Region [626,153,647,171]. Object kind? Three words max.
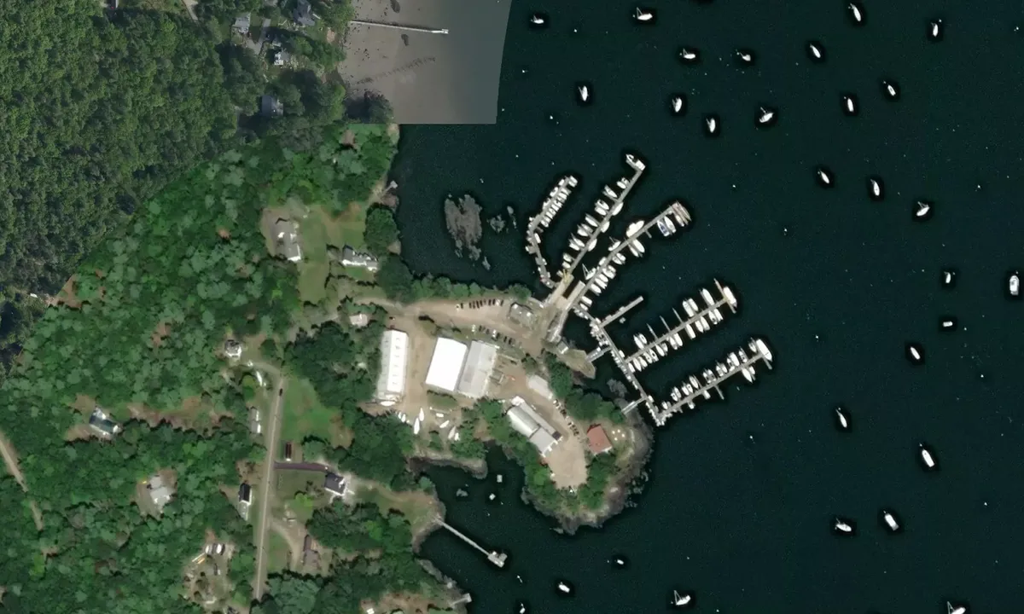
boat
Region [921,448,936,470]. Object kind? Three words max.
boat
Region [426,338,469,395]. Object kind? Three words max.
shed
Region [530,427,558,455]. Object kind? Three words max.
building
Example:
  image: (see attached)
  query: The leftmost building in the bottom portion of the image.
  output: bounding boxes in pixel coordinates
[90,408,119,437]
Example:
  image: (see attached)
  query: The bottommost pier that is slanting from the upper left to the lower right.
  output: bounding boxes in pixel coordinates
[439,519,508,567]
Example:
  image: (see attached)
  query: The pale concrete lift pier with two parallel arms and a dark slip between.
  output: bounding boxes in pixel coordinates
[547,274,586,313]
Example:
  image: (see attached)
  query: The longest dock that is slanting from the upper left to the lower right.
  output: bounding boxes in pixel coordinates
[573,305,661,425]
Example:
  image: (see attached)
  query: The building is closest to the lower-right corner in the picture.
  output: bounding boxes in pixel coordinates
[588,426,612,453]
